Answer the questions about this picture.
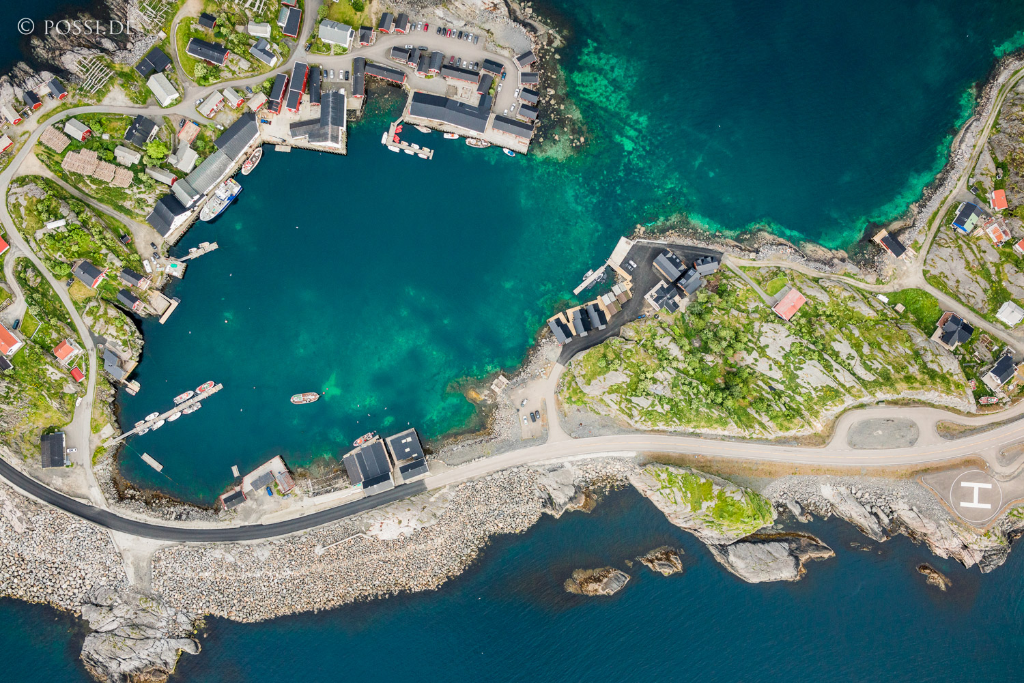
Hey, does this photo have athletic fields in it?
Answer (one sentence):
No, I can see no athletic field in this picture.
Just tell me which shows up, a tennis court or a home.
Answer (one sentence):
Visible in the photo is a home.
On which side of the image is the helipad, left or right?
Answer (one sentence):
The helipad appears in the right half of the scene.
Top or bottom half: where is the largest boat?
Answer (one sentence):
You can find the largest boat in the top half.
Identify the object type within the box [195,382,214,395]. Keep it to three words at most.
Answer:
boat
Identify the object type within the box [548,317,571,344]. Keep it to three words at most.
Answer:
building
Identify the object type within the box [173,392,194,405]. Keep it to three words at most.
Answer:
boat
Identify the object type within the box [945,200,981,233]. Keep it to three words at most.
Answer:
house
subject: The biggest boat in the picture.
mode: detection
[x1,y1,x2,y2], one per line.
[197,176,244,220]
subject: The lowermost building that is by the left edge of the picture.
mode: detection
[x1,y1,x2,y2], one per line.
[42,432,70,468]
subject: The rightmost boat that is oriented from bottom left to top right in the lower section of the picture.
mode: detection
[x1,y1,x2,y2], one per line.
[354,432,373,446]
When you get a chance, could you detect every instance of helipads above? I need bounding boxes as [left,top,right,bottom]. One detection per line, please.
[922,470,1024,527]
